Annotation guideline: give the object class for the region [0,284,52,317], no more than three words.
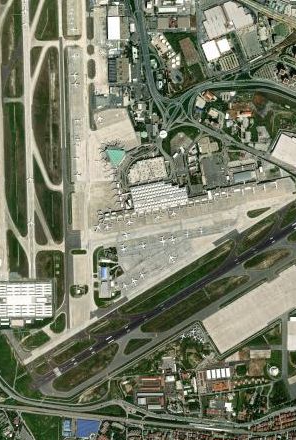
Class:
building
